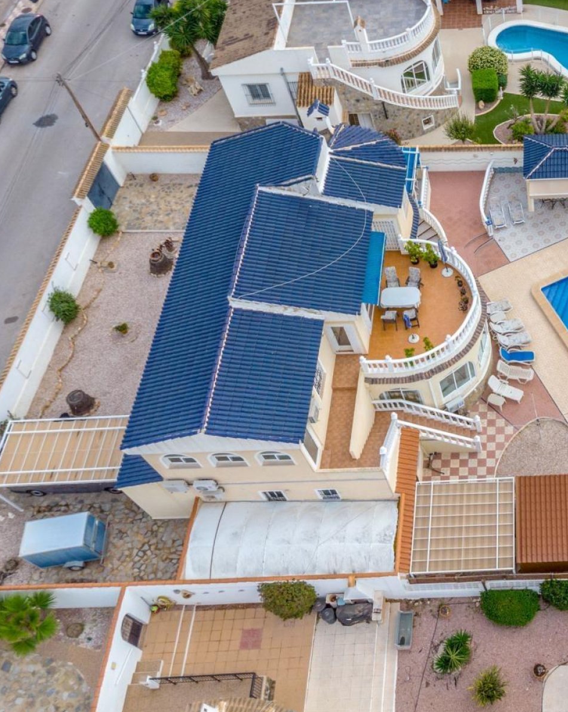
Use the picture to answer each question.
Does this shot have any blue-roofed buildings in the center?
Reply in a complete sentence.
Yes, I can see a blue-roofed building in the center.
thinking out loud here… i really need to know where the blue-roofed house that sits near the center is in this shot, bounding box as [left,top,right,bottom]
[119,116,493,515]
